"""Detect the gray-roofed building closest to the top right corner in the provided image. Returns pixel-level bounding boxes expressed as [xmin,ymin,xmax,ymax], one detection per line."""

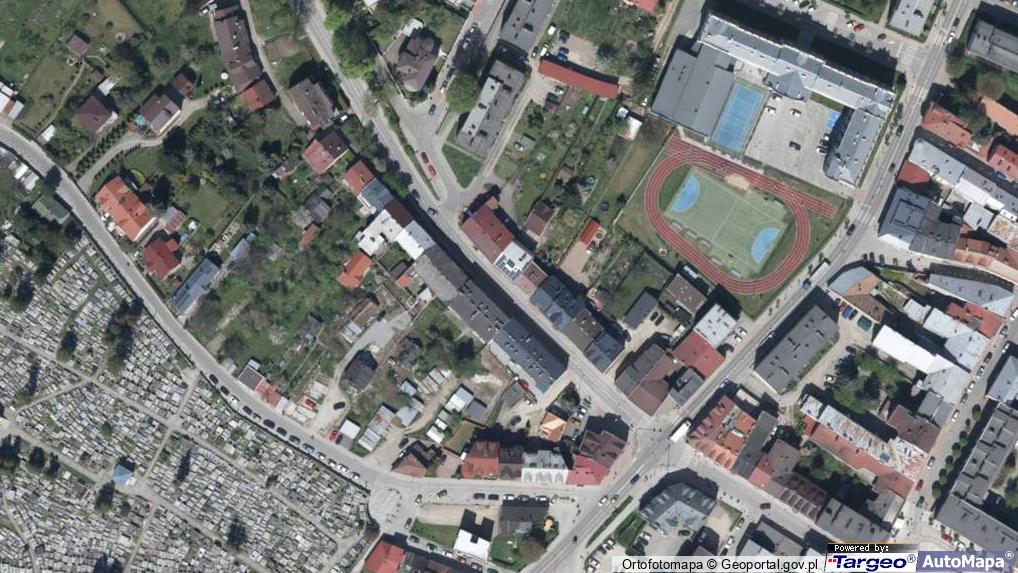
[963,21,1018,79]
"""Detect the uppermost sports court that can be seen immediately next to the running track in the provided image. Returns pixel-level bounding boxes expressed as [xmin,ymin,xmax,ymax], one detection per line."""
[709,77,768,156]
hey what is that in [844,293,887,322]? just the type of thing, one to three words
shed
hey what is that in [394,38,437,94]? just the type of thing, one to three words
house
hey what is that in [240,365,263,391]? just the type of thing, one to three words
building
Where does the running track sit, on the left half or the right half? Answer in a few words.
right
